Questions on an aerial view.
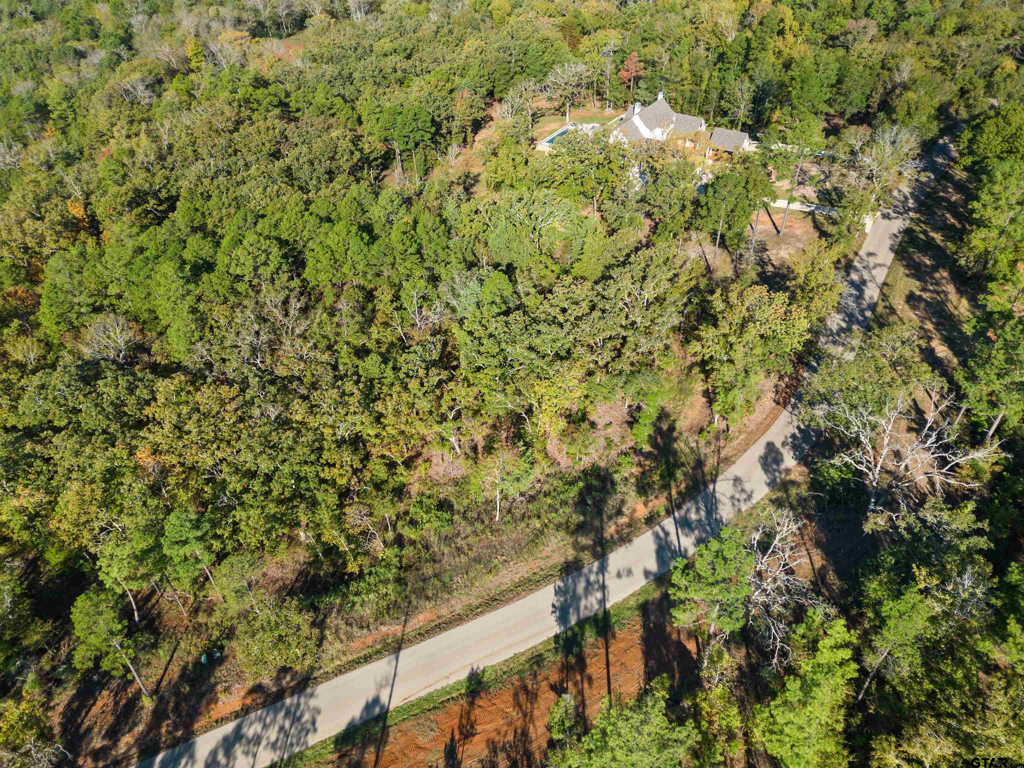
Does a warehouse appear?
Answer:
No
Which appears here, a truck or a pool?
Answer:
pool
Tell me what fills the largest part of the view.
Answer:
trees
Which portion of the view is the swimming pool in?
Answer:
top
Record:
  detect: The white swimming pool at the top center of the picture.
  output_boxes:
[536,122,598,152]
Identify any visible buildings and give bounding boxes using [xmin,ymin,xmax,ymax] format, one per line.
[605,87,707,157]
[705,127,750,161]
